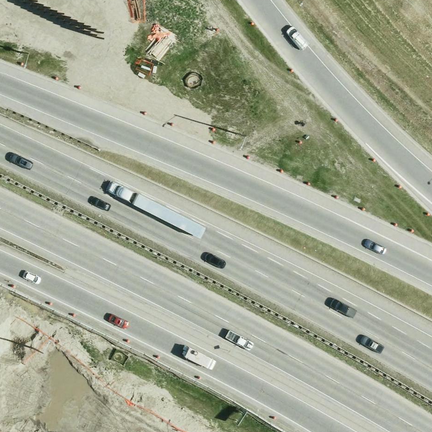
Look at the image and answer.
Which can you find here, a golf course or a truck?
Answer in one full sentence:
Of the two, only a truck appears.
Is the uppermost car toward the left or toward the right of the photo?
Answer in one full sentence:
You can find the uppermost car on the right side of the picture.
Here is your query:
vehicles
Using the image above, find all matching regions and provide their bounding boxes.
[182,345,217,368]
[287,28,308,49]
[105,182,206,238]
[204,252,227,270]
[359,336,386,355]
[9,153,34,170]
[90,196,112,211]
[108,314,129,329]
[328,298,357,319]
[22,270,43,285]
[227,331,256,352]
[364,239,387,256]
